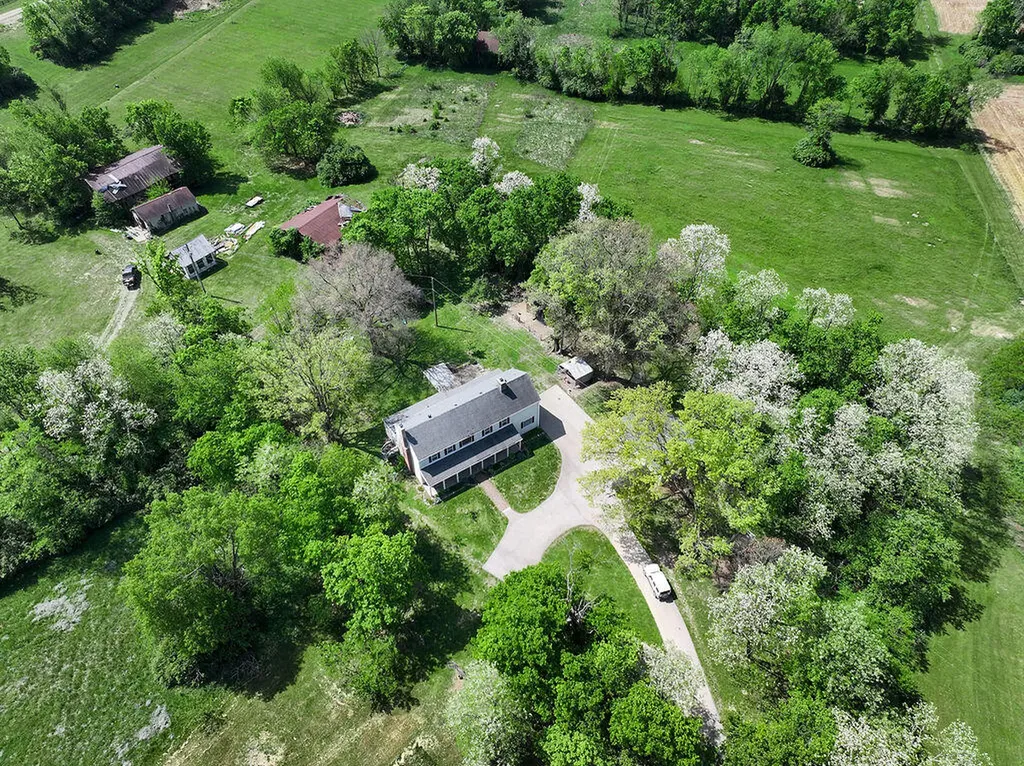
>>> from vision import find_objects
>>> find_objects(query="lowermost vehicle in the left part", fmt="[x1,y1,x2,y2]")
[119,261,138,285]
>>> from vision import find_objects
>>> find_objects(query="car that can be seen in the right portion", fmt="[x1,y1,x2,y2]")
[641,563,677,602]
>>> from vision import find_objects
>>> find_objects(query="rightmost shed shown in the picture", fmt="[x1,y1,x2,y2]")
[557,356,594,392]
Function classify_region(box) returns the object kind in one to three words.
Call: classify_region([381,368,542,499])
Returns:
house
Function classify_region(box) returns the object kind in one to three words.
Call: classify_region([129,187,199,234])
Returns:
barn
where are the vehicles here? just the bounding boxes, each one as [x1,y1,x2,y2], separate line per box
[119,261,138,285]
[641,563,677,602]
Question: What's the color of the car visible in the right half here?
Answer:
white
